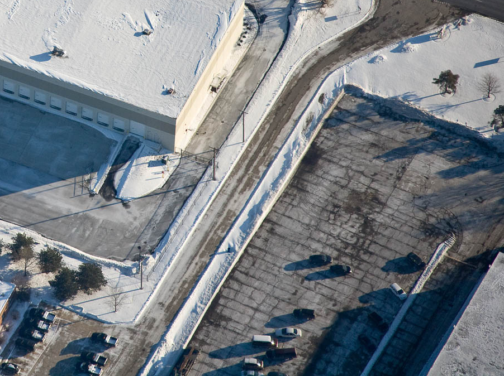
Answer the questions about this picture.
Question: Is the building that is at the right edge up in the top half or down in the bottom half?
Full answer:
It is in the bottom half that the building that is at the right edge appears.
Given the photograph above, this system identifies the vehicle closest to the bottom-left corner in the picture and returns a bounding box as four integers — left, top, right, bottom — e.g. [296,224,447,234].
[0,360,23,374]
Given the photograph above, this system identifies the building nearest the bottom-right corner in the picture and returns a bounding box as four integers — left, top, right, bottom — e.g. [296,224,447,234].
[421,250,504,376]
